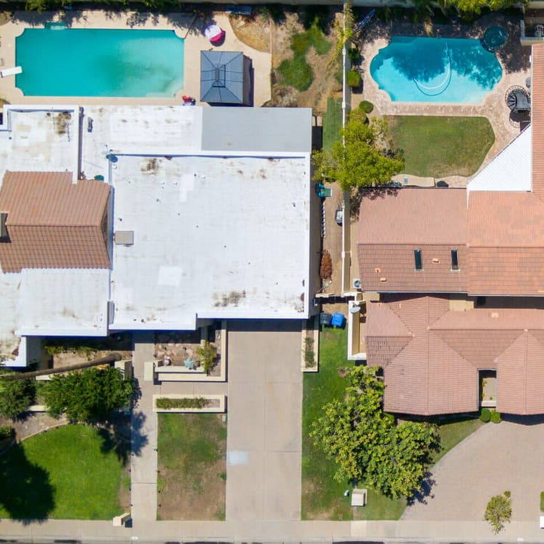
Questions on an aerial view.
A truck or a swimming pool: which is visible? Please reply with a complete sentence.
The one in the frame is a swimming pool.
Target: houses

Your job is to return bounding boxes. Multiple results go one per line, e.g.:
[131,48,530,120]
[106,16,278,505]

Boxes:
[0,105,320,365]
[356,42,544,417]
